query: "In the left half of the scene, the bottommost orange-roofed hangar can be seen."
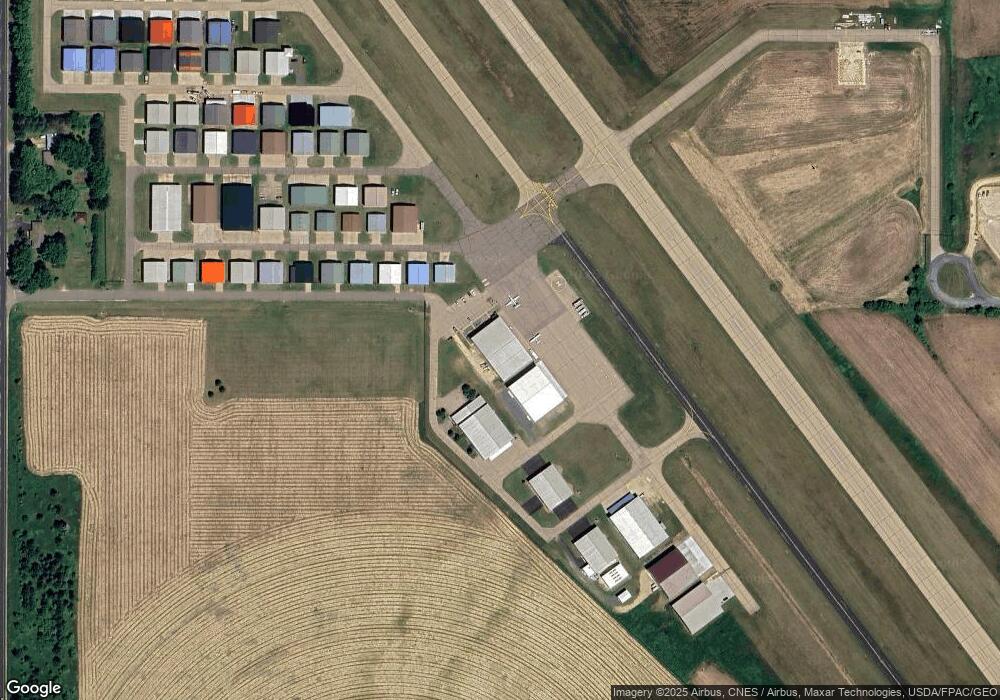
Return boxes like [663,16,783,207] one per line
[201,262,224,282]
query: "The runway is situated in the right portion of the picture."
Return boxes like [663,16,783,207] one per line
[479,0,1000,693]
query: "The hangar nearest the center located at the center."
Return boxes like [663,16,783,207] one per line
[472,316,533,383]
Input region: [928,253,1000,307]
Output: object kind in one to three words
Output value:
roundabout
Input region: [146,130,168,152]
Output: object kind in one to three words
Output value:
hangar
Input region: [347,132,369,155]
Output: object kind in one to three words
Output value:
hangar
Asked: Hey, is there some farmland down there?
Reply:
Yes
